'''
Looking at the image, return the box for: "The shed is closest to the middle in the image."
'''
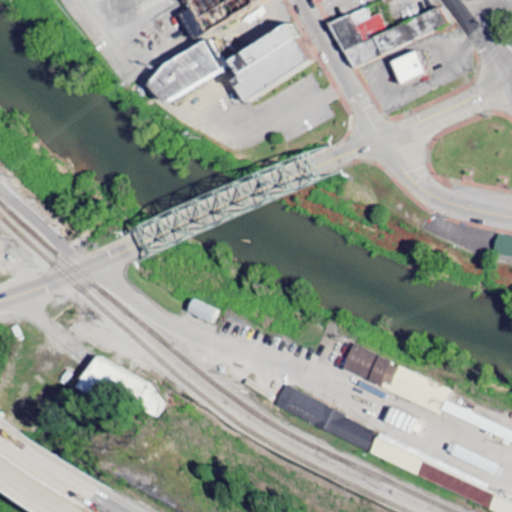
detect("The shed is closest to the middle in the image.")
[188,299,220,322]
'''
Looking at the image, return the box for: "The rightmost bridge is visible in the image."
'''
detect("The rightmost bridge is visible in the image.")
[128,144,338,260]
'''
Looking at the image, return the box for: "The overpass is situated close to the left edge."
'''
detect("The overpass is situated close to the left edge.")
[0,418,149,512]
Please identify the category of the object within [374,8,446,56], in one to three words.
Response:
building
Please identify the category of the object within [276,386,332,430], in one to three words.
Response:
shed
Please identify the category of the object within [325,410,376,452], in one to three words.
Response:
shed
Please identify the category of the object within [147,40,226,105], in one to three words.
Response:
building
